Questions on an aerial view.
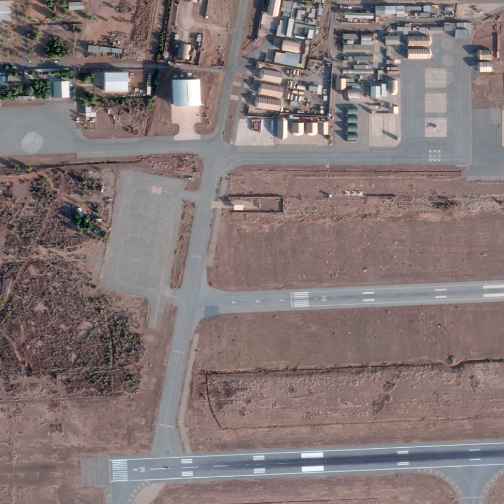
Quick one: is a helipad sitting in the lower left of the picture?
No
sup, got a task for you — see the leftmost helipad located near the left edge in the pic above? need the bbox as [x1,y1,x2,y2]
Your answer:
[22,131,43,153]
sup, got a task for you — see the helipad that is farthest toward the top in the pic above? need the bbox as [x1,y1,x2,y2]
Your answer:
[425,67,446,87]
